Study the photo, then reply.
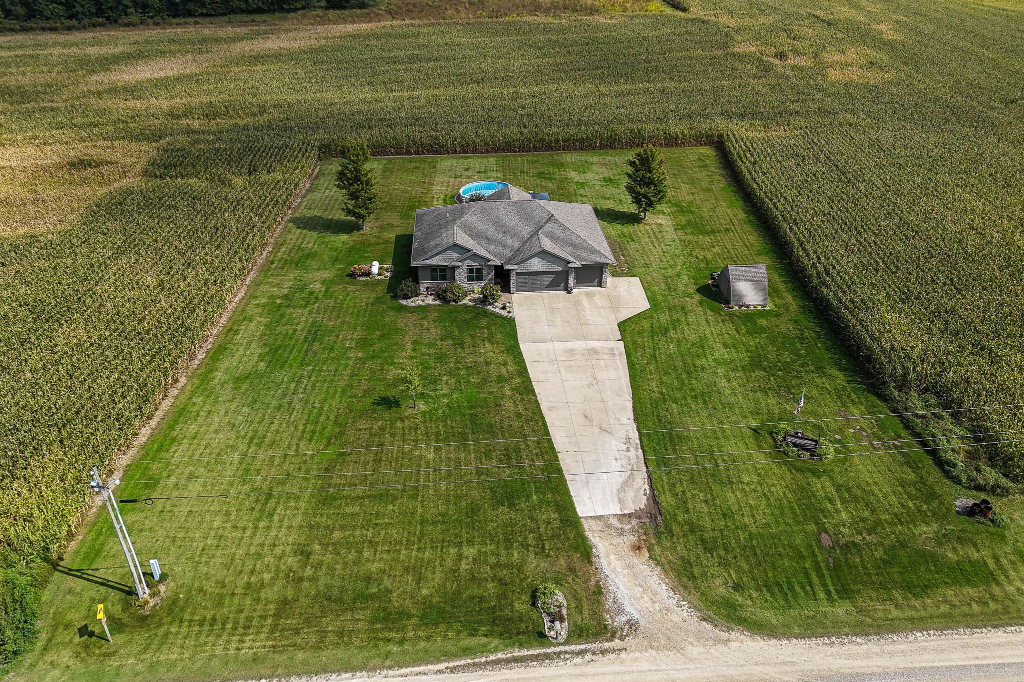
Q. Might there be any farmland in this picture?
Yes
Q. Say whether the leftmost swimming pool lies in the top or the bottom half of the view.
top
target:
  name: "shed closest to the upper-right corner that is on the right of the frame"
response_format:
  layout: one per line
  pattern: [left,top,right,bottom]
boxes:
[718,264,768,305]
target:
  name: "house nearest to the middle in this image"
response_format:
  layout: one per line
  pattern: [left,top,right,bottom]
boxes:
[410,185,617,294]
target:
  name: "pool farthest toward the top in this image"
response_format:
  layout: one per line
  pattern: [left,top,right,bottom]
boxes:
[458,181,508,203]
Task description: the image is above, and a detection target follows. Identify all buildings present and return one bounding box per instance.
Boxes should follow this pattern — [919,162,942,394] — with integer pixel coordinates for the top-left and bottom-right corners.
[410,185,617,294]
[718,264,768,305]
